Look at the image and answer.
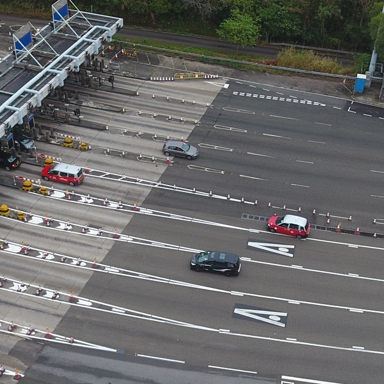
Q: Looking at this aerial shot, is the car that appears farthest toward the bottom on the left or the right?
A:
right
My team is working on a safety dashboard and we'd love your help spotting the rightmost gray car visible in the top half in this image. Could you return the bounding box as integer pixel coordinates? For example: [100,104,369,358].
[160,137,198,159]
